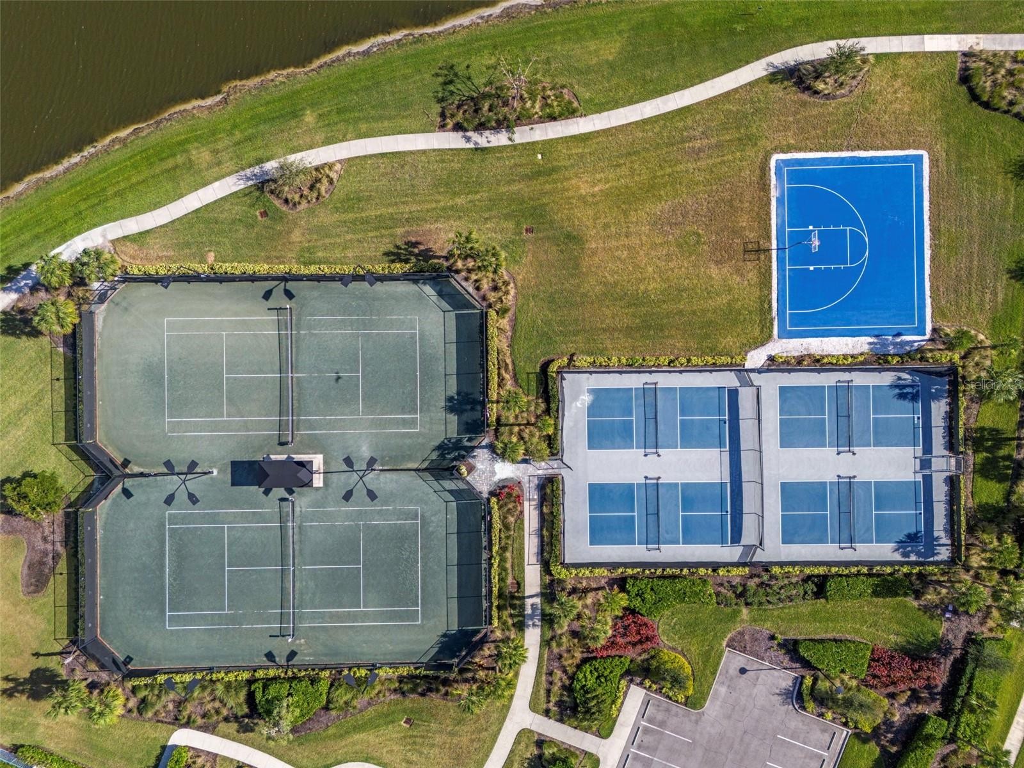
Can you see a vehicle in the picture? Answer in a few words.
No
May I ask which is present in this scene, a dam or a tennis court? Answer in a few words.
tennis court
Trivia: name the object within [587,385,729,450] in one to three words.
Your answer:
sports court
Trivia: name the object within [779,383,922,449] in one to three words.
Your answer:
sports court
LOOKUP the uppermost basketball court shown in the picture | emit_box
[776,154,926,338]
